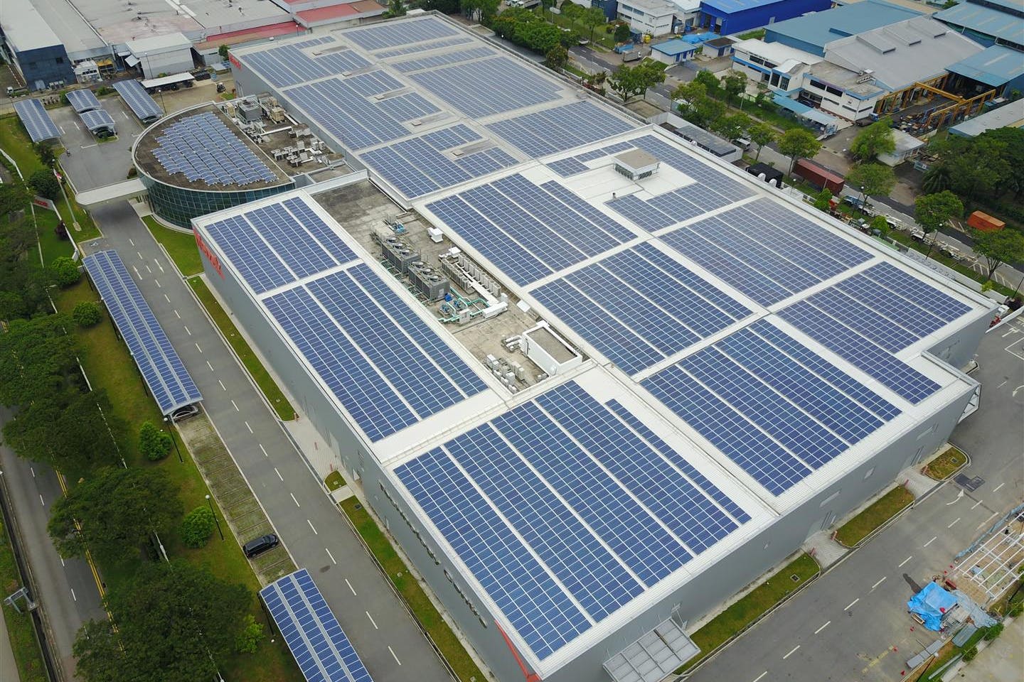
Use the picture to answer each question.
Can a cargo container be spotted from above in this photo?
Yes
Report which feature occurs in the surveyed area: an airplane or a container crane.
container crane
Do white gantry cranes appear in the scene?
No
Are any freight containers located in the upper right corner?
Yes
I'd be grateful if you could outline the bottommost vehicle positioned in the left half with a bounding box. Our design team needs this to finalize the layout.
[243,533,280,557]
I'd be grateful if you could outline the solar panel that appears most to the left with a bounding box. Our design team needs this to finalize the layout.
[14,100,59,142]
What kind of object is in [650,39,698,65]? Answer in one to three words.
building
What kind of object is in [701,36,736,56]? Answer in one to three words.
shed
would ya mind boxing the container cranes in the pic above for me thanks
[871,73,996,134]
